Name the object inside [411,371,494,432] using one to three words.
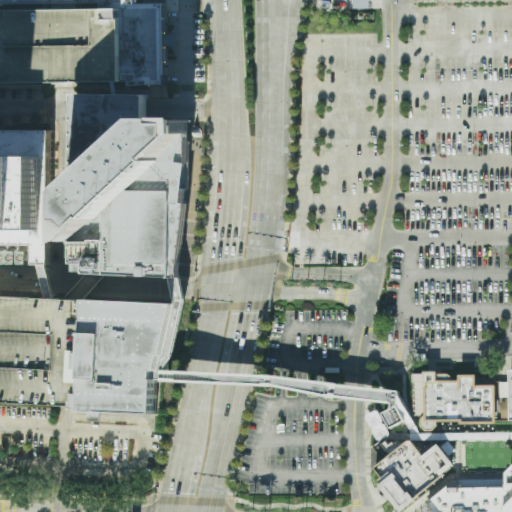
building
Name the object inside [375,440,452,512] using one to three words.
building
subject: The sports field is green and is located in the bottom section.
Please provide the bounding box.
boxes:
[465,441,512,469]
